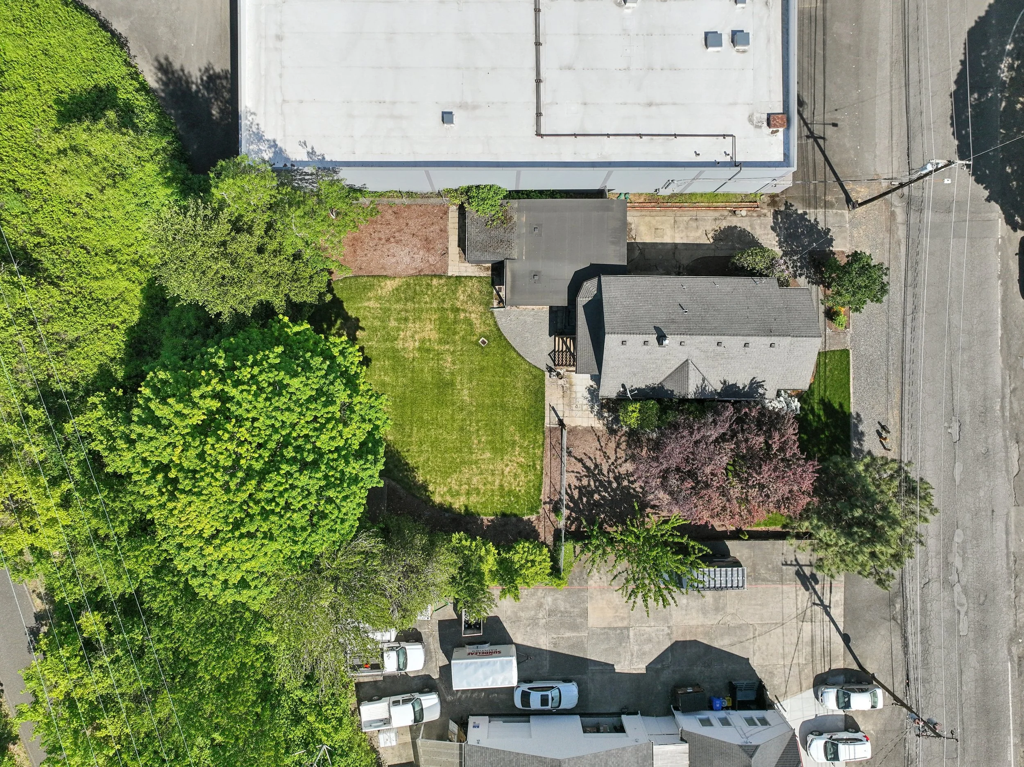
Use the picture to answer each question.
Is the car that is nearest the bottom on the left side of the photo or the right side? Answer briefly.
right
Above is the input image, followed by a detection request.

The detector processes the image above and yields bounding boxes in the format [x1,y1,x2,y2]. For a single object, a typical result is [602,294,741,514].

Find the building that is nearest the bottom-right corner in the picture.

[671,706,794,767]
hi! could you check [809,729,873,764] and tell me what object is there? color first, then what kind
white car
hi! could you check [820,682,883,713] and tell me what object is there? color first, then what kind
white car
